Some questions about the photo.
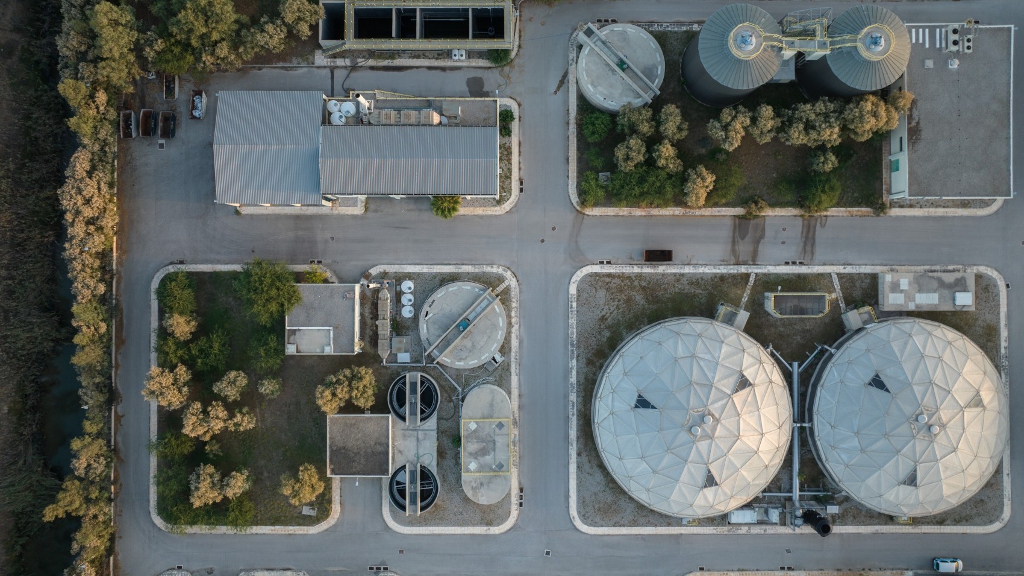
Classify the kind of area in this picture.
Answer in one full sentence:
The picture captures an industrial area.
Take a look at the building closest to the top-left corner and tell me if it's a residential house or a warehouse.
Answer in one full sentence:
I'd identify the building closest to the top-left corner as a warehouse.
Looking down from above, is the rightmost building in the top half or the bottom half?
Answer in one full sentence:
The top half of the photo is where the rightmost building is.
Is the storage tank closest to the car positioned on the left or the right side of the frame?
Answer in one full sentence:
It is on the right.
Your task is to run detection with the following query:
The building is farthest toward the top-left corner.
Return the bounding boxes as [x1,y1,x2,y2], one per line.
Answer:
[212,90,332,207]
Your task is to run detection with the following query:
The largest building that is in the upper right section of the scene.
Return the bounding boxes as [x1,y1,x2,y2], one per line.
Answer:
[890,24,1018,202]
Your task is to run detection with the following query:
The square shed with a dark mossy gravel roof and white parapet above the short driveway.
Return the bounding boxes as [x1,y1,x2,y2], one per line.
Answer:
[327,410,393,477]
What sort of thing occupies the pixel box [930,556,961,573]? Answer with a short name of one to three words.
car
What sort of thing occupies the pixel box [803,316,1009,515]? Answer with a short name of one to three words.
storage tank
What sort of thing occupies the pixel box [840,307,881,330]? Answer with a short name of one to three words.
shed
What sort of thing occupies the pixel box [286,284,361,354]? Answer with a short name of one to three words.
building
